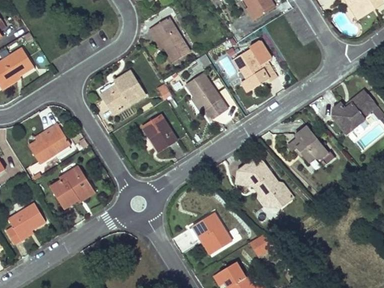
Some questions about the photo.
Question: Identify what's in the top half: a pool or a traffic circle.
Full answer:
You can see a pool in the top half.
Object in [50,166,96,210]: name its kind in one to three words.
house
